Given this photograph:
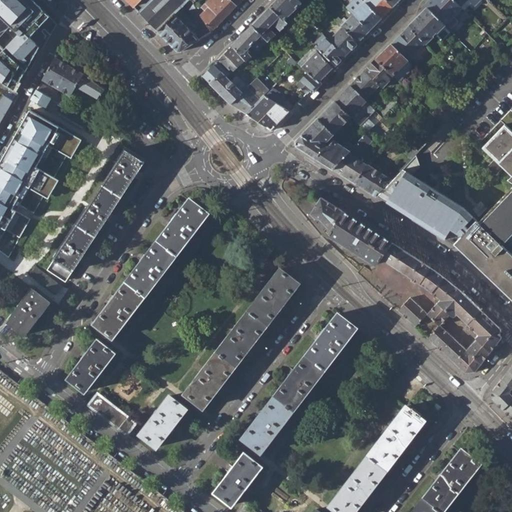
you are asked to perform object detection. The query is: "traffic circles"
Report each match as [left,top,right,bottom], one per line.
[198,130,254,185]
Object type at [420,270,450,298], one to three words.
building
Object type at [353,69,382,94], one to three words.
house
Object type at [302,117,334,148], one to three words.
house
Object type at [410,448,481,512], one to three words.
building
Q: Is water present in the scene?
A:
No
